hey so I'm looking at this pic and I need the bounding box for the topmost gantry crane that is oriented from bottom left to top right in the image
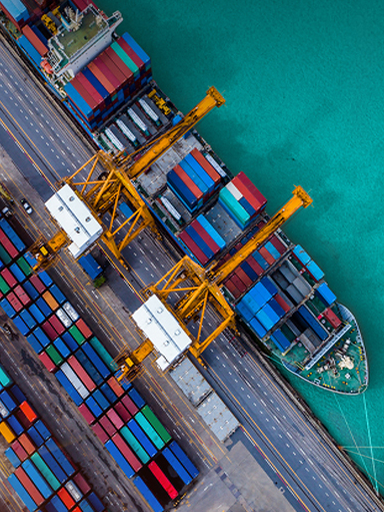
[18,87,235,269]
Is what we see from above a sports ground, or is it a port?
port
